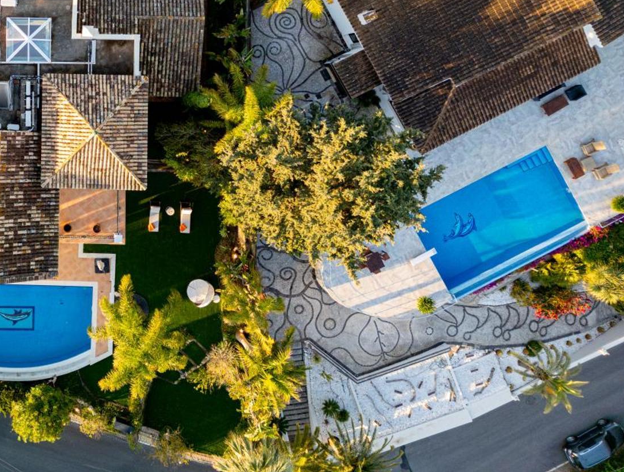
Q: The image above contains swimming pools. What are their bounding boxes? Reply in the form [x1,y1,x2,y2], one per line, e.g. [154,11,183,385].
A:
[0,278,111,389]
[414,146,589,311]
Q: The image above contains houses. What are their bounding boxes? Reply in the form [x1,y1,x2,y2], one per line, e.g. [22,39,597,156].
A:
[0,0,208,287]
[324,0,624,152]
